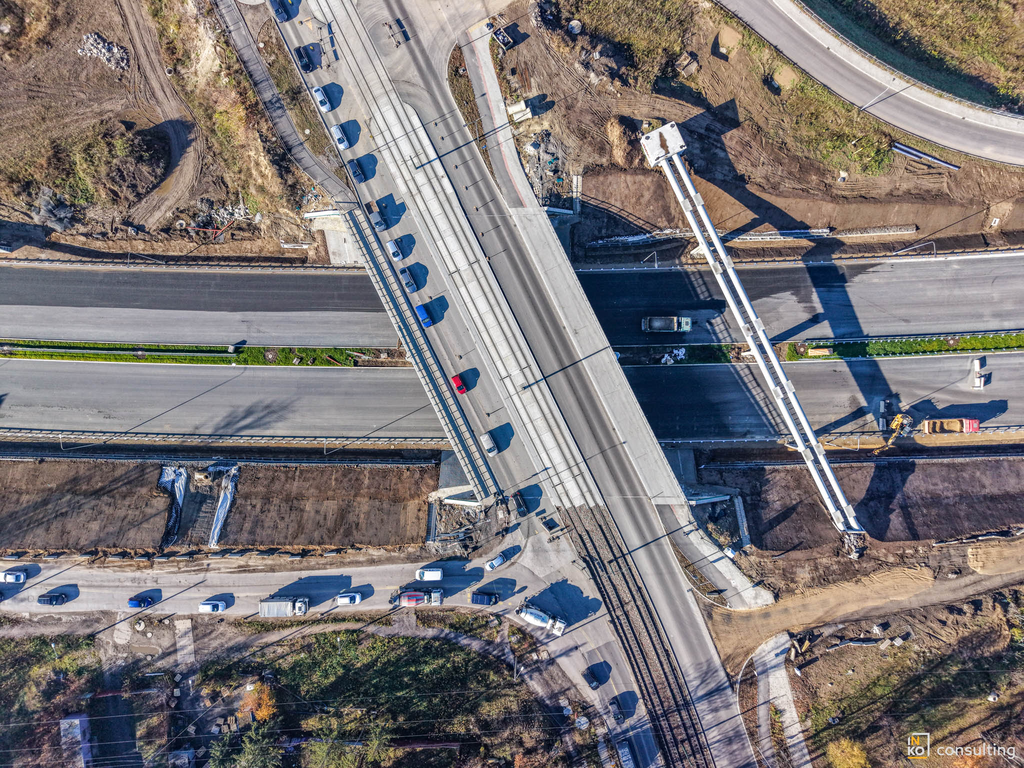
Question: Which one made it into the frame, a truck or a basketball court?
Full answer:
I can see a truck in this picture.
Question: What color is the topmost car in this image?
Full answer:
The topmost car is blue.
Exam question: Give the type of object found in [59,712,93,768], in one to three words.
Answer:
shed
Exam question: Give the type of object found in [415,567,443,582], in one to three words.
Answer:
vehicle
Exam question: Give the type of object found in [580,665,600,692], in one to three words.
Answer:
car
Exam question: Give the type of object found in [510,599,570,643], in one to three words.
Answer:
truck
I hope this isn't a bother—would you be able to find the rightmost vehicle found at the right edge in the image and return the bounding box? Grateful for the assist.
[918,416,981,435]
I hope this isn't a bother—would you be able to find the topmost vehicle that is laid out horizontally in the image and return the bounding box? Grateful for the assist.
[641,315,692,334]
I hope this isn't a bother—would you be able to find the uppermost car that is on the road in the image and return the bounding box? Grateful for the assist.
[269,0,290,25]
